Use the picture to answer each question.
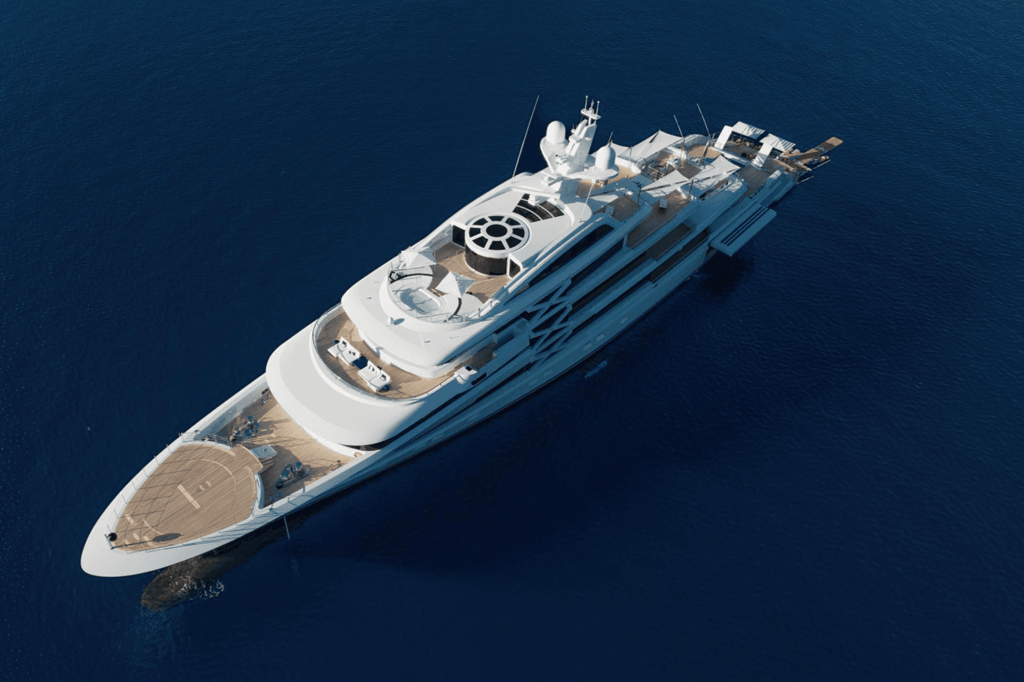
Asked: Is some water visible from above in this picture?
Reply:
Yes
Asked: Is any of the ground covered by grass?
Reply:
No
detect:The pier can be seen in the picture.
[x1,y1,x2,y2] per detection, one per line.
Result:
[792,138,843,166]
